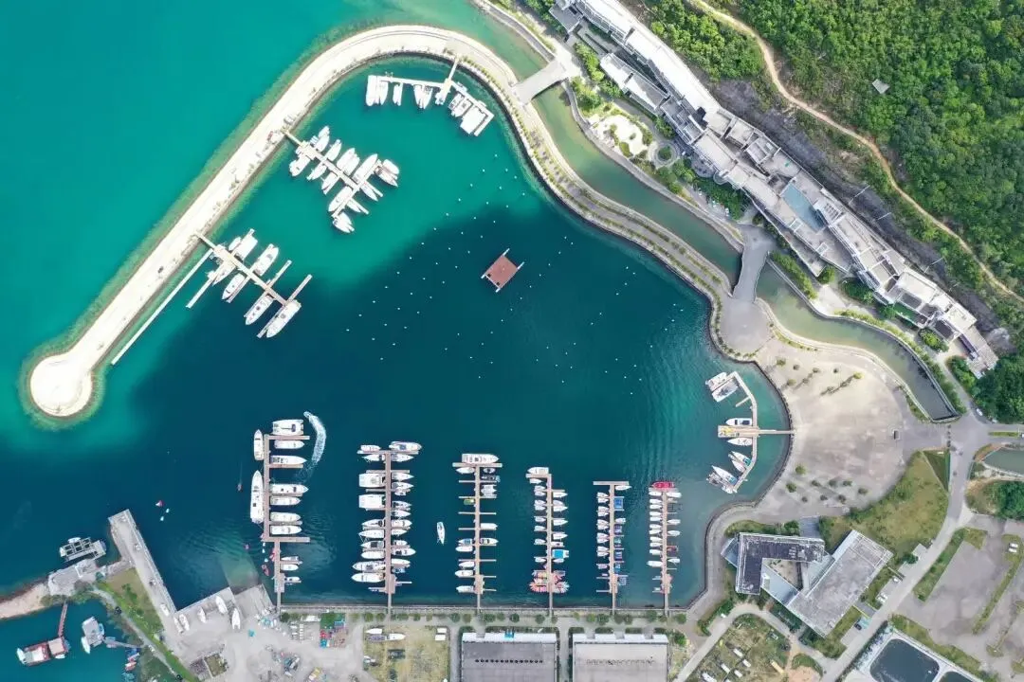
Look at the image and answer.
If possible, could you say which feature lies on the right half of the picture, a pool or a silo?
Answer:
pool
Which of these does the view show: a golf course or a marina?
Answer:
marina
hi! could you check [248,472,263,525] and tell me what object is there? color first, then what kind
white boat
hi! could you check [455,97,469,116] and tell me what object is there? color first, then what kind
white boat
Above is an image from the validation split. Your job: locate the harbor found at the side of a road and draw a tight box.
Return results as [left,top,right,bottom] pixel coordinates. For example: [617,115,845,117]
[126,65,794,612]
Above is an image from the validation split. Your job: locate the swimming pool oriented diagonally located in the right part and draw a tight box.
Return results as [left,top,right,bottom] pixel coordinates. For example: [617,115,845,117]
[780,183,826,235]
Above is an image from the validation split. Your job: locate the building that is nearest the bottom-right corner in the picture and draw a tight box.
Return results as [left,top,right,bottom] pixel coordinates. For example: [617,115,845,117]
[785,526,894,639]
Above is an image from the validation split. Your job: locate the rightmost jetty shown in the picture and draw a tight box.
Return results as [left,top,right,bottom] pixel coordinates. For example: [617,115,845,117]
[709,371,790,493]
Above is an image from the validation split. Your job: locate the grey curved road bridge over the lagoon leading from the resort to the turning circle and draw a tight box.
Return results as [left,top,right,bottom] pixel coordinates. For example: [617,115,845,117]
[725,241,776,307]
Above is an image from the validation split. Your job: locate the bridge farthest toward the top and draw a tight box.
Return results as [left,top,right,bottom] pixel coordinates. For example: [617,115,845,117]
[509,55,569,107]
